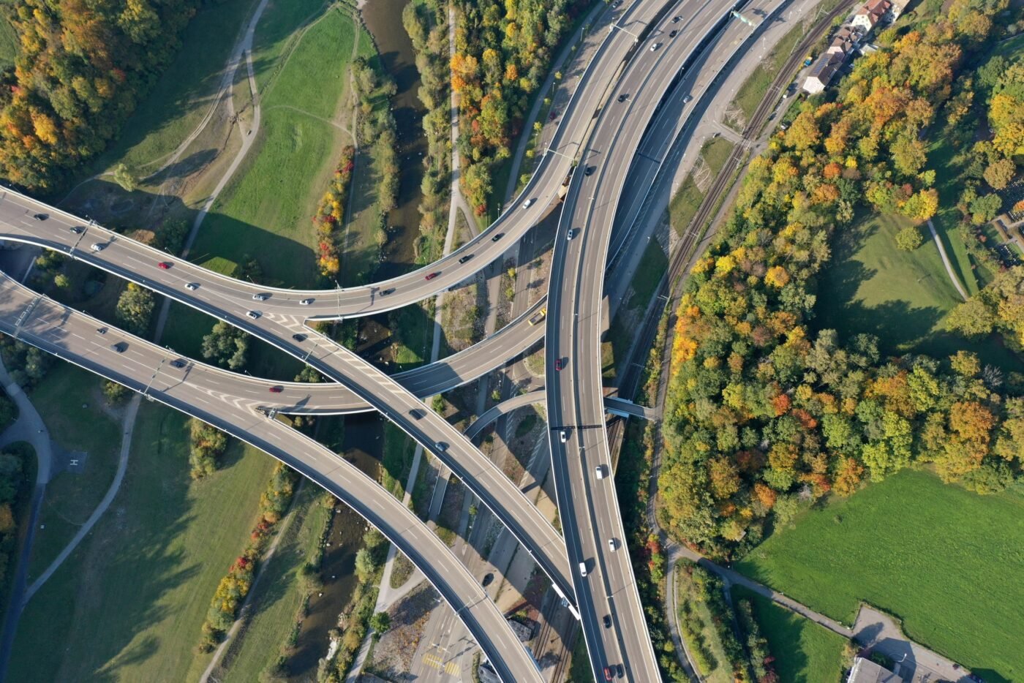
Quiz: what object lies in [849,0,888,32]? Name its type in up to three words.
house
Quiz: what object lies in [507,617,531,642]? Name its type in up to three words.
shed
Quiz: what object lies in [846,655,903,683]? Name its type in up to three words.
building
